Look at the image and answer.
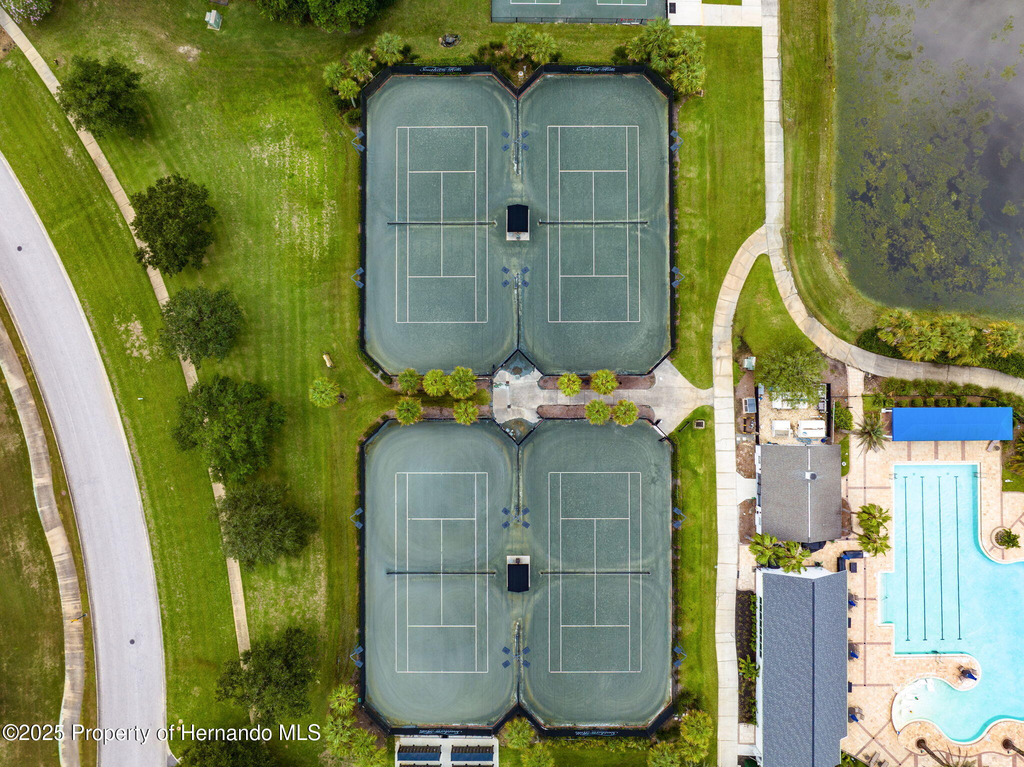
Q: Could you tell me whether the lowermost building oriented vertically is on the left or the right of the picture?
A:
right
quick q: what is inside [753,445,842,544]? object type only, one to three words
building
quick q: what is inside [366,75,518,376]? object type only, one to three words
tennis court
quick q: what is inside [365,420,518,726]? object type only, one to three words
tennis court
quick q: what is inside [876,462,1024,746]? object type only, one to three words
swimming pool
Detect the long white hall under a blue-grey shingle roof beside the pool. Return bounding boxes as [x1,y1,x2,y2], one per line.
[750,570,849,767]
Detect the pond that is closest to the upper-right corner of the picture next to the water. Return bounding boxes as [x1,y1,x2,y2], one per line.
[829,0,1024,328]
